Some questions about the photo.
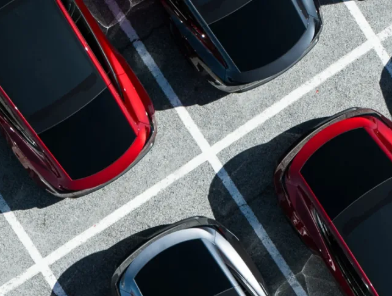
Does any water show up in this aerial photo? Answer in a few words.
No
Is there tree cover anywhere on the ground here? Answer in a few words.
No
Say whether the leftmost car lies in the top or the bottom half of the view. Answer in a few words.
top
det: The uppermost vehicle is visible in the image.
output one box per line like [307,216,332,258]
[153,0,327,95]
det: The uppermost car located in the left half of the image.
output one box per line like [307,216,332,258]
[0,0,160,202]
